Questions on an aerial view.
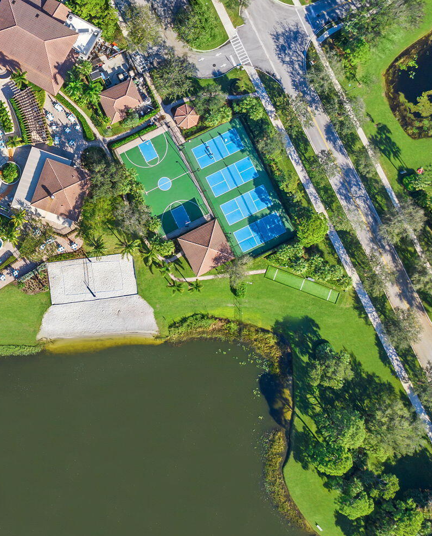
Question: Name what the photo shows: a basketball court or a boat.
basketball court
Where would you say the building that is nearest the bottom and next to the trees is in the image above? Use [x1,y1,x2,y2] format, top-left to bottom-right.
[175,218,235,277]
